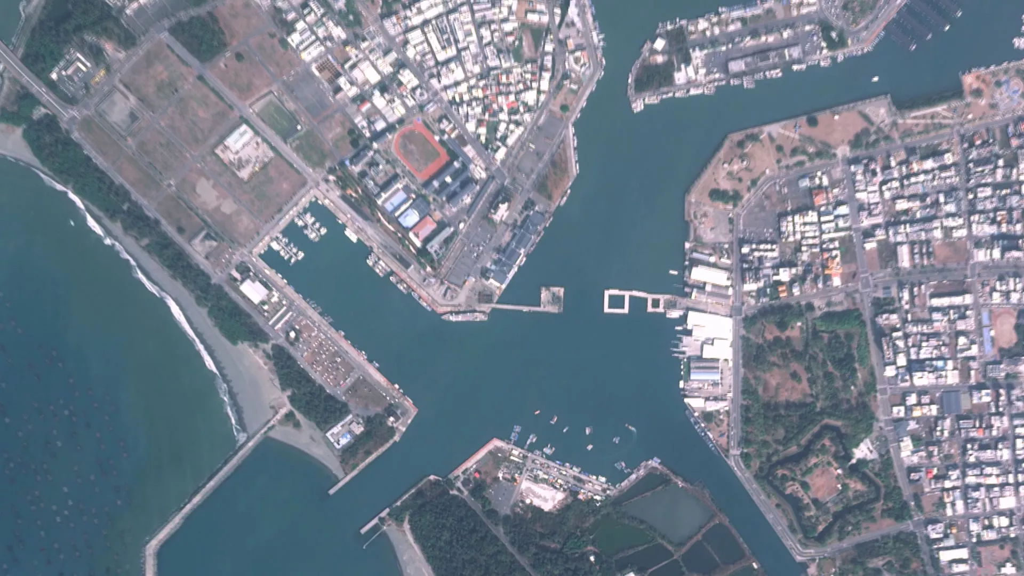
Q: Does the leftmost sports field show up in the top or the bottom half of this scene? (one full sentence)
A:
You can find the leftmost sports field in the top half.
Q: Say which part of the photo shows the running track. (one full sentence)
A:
The running track is located in the top region of the scene.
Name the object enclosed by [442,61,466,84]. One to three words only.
building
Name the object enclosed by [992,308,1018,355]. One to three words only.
sports field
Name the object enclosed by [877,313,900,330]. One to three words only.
building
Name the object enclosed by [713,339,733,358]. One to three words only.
shed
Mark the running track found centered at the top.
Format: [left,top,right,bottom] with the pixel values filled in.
[394,117,449,181]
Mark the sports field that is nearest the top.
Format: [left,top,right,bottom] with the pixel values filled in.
[248,90,303,142]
